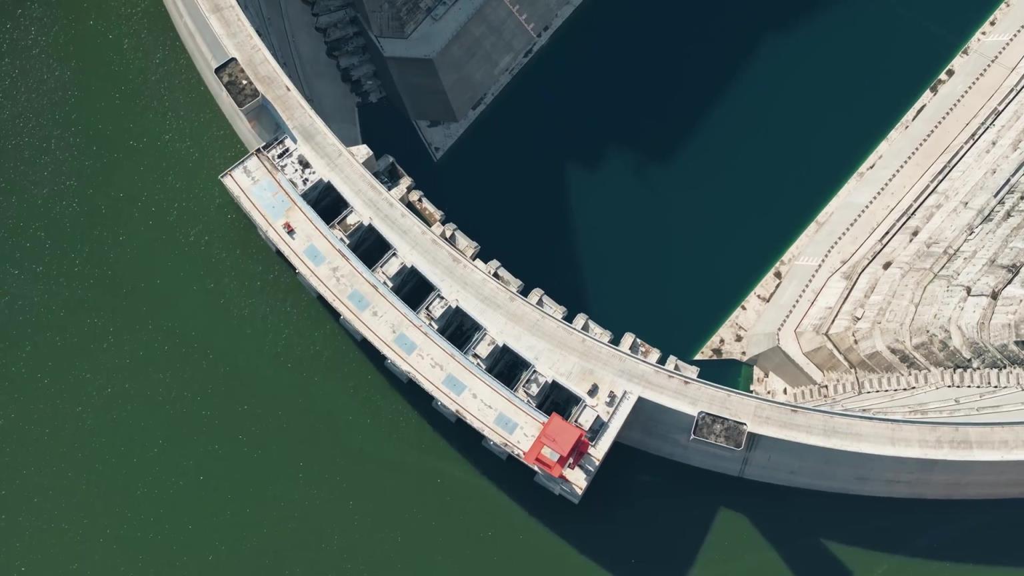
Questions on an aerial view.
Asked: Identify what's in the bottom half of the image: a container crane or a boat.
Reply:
container crane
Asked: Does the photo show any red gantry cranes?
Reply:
Yes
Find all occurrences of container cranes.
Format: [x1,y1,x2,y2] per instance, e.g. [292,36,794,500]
[523,411,592,477]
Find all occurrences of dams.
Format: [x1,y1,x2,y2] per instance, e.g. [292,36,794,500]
[164,0,1024,507]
